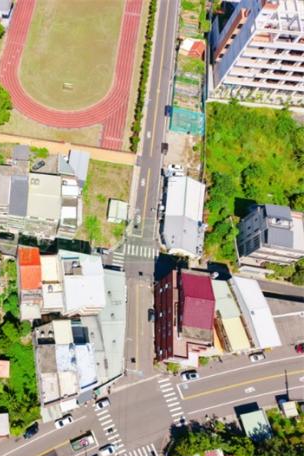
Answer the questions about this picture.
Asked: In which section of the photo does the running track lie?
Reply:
top left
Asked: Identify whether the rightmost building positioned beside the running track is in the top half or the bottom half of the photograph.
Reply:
top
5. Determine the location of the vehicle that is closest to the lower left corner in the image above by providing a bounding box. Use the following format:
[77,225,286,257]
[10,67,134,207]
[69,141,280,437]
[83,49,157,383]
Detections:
[20,422,40,439]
